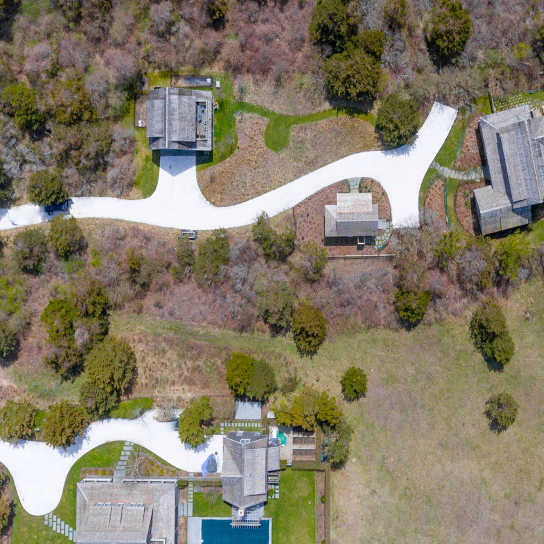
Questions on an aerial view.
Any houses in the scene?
Yes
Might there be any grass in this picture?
Yes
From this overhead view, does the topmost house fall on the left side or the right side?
left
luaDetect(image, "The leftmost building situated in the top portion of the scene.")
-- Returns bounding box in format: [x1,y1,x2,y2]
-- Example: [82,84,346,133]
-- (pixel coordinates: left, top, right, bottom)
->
[147,87,216,150]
